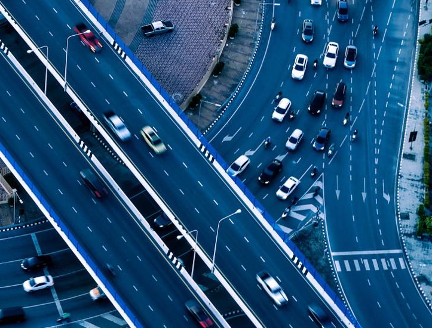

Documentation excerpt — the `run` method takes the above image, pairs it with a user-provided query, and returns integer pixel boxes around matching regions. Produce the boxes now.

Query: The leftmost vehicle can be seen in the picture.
[0,305,25,323]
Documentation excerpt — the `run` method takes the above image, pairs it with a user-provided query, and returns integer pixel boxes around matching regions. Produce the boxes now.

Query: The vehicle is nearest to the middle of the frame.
[232,155,250,174]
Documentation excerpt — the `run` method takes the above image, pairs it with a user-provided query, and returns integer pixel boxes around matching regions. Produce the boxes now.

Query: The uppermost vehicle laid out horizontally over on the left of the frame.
[140,20,175,37]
